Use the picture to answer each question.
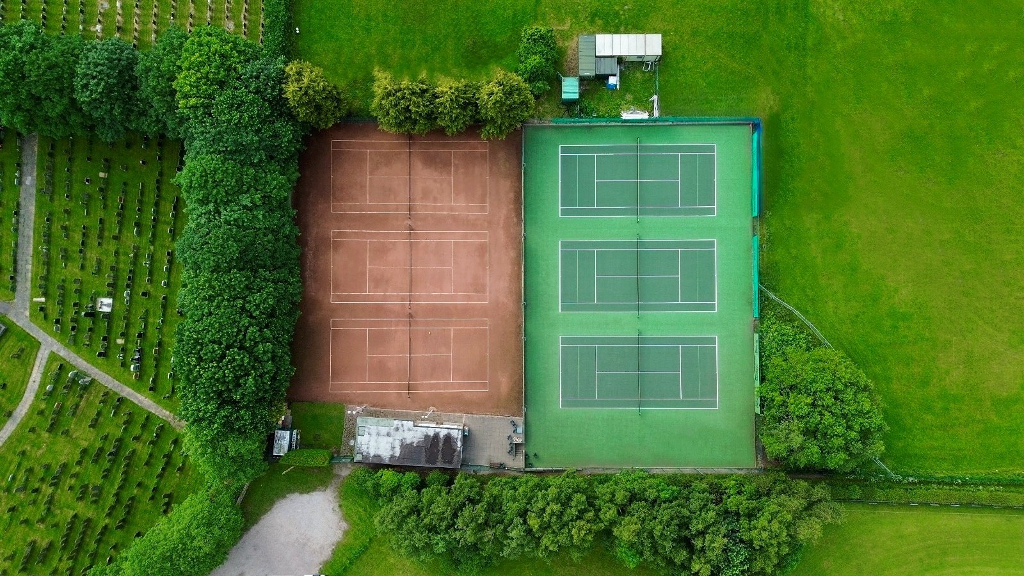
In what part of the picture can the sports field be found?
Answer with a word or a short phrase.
bottom right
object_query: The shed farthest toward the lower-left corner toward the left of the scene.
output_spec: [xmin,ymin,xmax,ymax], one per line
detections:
[273,427,294,456]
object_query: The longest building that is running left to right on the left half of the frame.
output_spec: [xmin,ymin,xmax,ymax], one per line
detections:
[352,415,463,469]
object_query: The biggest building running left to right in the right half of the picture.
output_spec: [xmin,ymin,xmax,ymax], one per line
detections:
[595,34,661,61]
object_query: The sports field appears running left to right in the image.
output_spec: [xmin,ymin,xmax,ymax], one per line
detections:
[807,508,1024,576]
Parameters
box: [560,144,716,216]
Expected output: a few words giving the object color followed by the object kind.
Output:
green tennis court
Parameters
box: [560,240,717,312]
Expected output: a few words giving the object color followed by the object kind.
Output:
green tennis court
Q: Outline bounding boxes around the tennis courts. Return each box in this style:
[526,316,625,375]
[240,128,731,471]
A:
[560,240,717,312]
[330,319,488,392]
[331,141,488,213]
[560,144,716,216]
[331,231,489,303]
[560,336,718,409]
